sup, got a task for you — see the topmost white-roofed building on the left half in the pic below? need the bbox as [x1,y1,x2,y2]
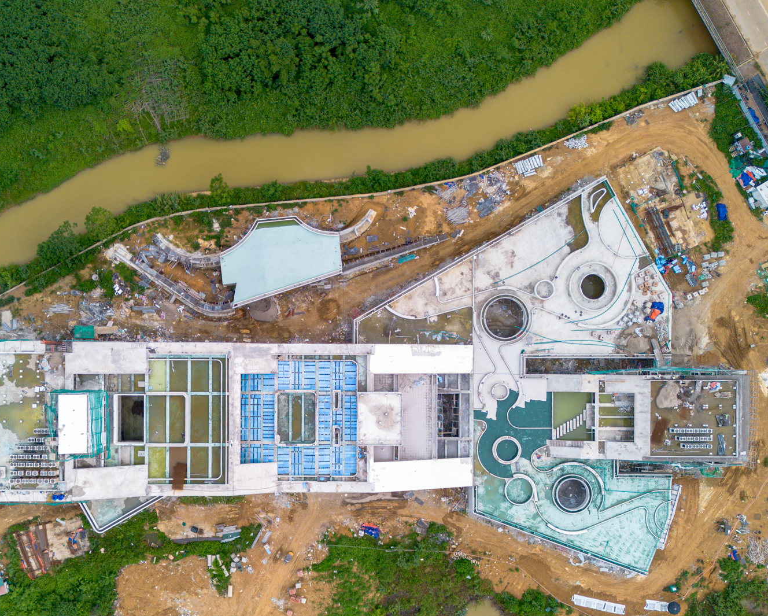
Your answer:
[220,217,343,309]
